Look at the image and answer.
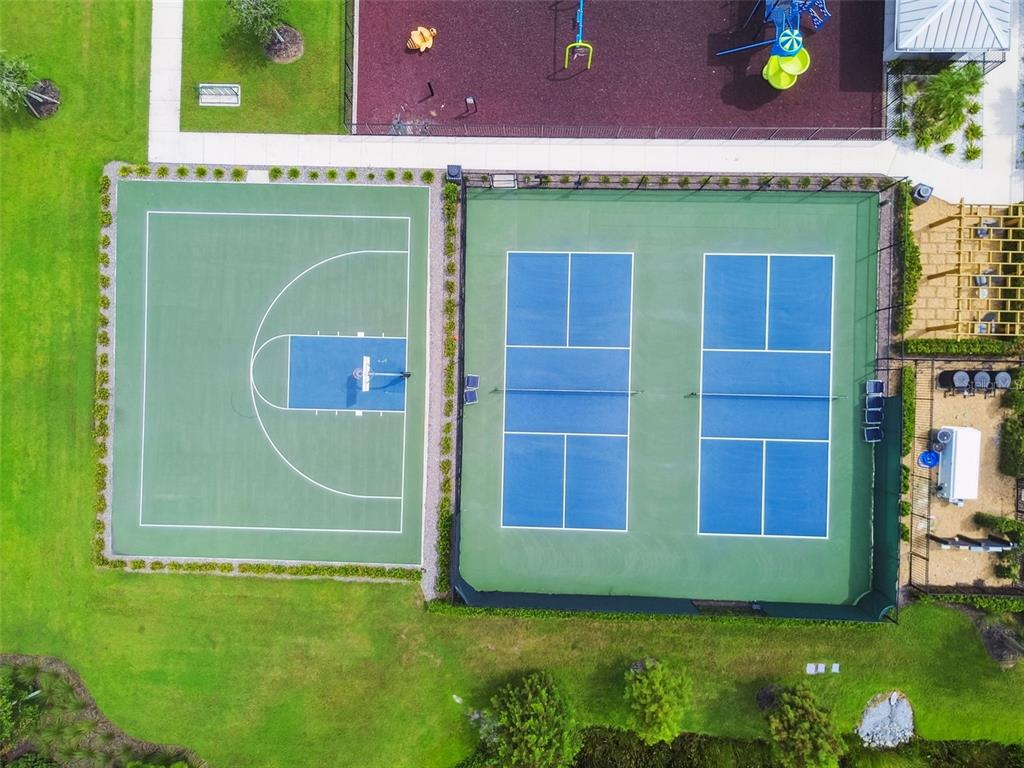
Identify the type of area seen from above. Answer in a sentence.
This image shows a sports ground.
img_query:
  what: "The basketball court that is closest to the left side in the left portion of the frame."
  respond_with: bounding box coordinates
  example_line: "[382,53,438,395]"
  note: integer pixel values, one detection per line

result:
[110,178,431,567]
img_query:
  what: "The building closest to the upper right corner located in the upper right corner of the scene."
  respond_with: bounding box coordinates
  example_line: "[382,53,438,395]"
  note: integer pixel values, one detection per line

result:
[886,0,1011,62]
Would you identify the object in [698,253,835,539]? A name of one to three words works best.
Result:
sports court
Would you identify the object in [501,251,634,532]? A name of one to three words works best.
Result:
sports court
